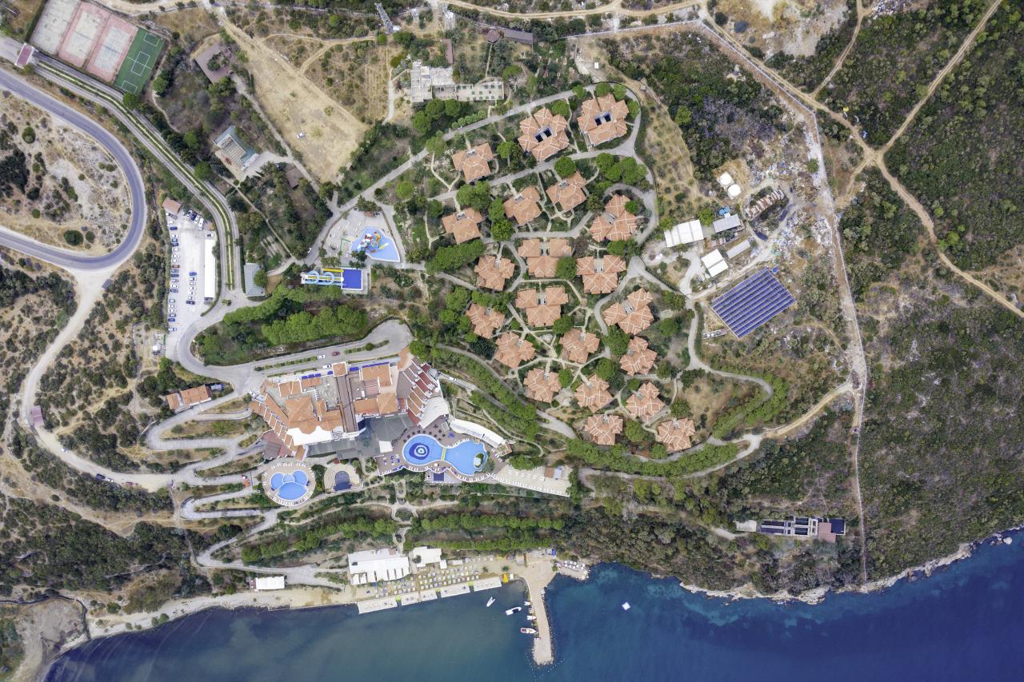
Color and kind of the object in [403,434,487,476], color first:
blue swimming pool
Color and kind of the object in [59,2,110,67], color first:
white tennis court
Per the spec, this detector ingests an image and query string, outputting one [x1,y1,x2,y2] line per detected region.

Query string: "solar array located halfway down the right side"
[711,269,794,339]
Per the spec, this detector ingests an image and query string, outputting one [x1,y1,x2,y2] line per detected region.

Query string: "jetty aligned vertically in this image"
[517,561,556,665]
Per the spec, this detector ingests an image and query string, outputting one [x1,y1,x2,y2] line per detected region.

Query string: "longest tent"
[453,420,505,448]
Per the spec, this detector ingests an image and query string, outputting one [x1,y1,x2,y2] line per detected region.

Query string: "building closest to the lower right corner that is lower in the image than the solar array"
[736,517,844,543]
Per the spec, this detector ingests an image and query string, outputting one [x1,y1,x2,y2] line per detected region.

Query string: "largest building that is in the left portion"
[250,347,440,460]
